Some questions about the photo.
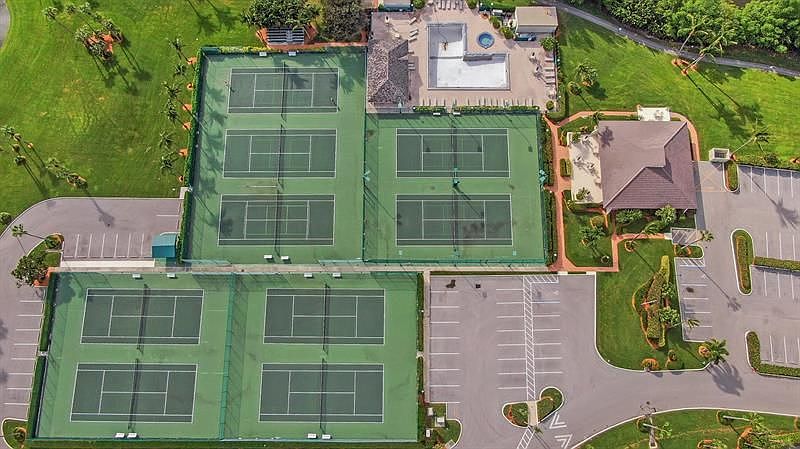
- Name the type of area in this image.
sports ground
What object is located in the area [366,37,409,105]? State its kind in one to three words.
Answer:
shed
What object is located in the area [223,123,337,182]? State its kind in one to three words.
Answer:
tennis court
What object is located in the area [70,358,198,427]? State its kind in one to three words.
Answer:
tennis court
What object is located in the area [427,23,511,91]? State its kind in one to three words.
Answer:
swimming pool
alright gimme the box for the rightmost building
[598,120,697,217]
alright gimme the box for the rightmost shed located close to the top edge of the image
[514,6,559,32]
